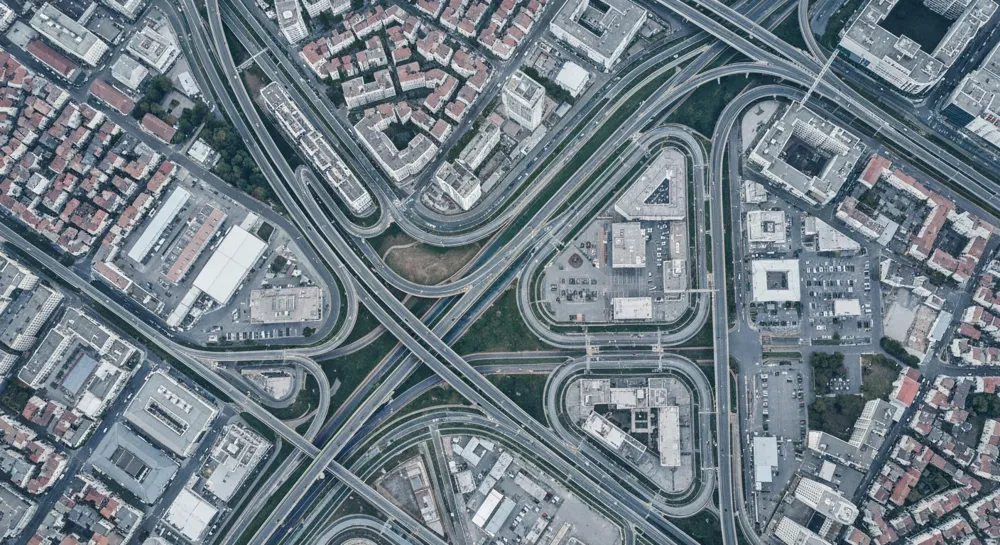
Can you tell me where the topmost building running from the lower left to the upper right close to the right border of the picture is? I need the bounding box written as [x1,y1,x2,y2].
[942,34,1000,121]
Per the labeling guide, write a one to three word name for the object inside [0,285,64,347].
building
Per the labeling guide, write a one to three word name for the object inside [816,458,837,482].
shed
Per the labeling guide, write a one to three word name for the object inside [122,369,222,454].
building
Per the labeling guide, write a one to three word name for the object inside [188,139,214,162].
house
